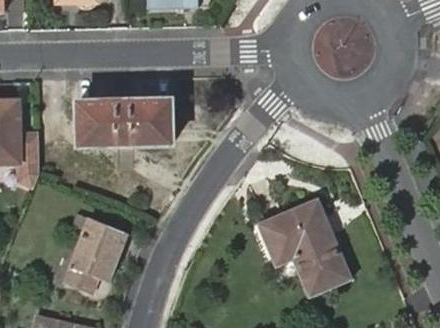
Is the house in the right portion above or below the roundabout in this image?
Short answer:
below it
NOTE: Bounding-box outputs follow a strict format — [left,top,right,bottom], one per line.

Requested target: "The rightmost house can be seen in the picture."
[256,198,355,298]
